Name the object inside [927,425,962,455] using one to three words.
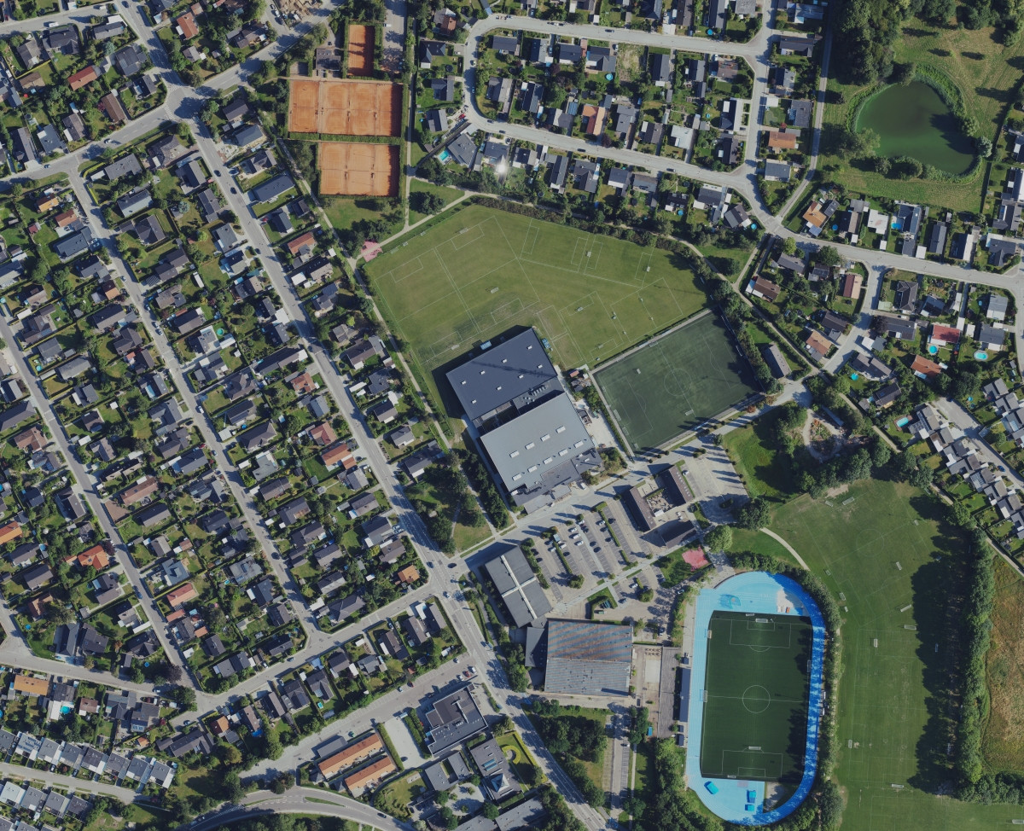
house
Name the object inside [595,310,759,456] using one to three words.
soccer field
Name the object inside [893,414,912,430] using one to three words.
swimming pool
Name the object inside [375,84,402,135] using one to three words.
tennis court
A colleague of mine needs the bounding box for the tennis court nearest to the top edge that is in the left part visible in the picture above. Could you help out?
[348,25,373,75]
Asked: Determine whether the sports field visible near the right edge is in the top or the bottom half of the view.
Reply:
bottom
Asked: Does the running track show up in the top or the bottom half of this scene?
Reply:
bottom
